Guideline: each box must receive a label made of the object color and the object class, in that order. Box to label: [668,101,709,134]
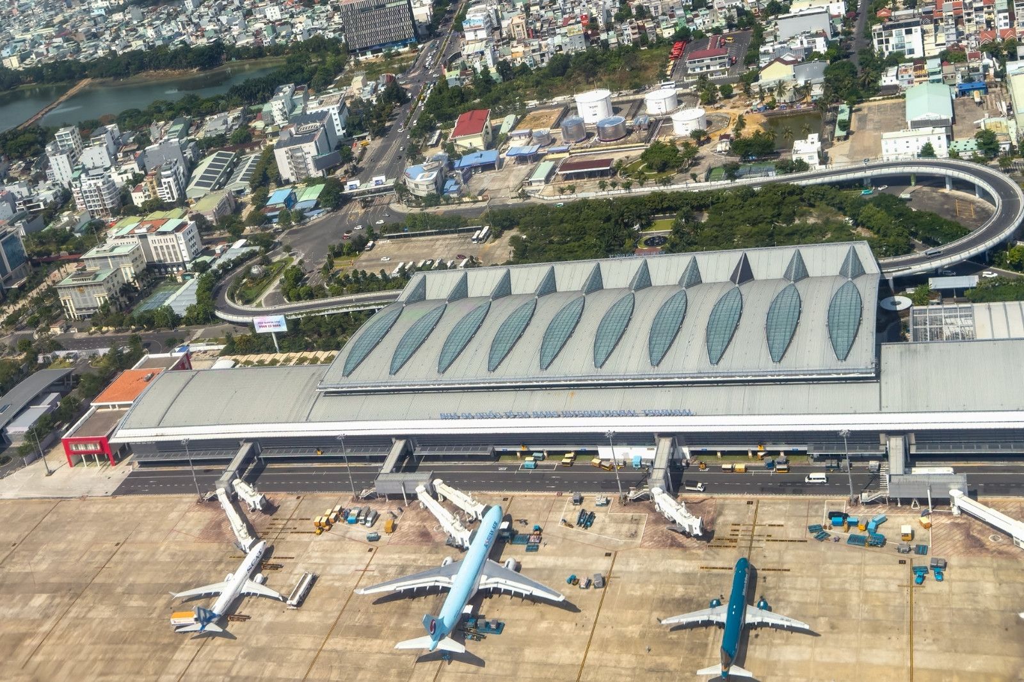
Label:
white storage tank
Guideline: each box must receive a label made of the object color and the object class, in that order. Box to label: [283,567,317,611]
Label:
white truck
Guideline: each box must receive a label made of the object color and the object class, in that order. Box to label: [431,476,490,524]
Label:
white jet bridge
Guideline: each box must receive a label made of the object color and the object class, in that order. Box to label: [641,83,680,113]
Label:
white storage tank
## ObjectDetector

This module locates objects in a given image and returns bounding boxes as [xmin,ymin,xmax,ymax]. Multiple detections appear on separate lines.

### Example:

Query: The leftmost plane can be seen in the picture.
[168,543,286,629]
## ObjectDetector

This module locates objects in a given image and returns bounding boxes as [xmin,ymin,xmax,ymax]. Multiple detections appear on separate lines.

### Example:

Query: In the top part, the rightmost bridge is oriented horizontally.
[512,157,1024,284]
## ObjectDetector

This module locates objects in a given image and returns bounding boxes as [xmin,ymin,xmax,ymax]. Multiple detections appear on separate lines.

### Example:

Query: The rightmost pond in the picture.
[755,112,832,148]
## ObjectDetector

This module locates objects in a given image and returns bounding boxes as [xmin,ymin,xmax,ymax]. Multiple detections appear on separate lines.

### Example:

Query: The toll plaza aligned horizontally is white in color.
[332,179,399,206]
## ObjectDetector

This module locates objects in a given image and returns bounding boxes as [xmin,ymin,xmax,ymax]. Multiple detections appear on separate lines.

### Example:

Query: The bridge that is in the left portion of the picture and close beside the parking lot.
[211,267,395,324]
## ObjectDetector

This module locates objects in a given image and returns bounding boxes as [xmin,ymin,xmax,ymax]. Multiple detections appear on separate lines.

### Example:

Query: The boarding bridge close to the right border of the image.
[947,486,1024,553]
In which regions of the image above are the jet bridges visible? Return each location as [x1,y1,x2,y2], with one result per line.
[431,476,490,524]
[947,486,1024,553]
[214,489,258,551]
[413,483,474,550]
[235,477,273,519]
[648,487,710,543]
